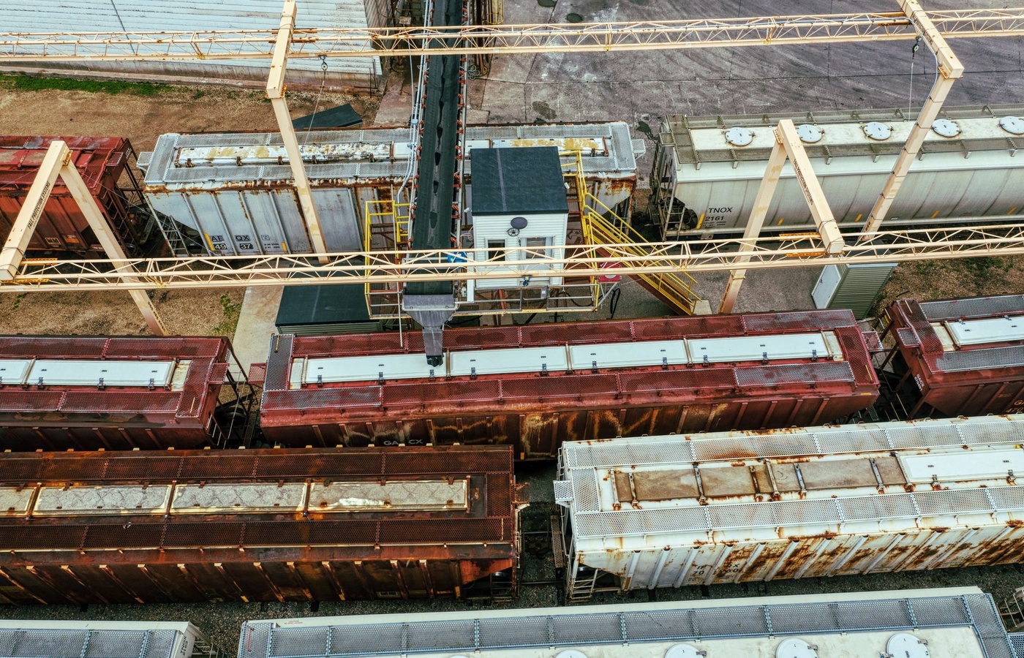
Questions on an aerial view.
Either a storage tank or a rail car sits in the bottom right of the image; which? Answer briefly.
rail car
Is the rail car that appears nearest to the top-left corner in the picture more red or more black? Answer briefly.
red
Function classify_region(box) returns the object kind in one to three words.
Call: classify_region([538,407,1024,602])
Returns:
rail car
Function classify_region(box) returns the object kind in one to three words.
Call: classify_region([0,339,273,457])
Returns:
rail car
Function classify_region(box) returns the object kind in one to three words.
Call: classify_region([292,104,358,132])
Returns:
shed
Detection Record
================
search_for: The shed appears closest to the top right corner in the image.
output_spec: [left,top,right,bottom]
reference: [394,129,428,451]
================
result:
[813,231,900,318]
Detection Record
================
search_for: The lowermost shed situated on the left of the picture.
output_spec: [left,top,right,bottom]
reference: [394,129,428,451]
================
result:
[276,256,387,334]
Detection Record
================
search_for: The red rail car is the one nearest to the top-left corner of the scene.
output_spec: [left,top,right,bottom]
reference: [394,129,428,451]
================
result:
[0,139,171,269]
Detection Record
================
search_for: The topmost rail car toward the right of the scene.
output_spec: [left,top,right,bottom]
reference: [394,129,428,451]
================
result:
[638,99,1024,238]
